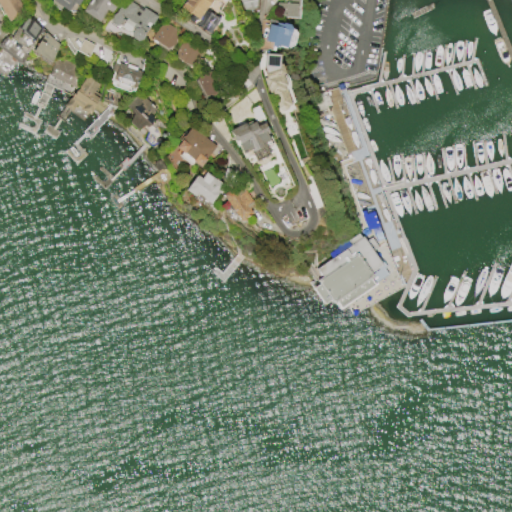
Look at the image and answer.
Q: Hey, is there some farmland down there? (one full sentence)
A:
No, there is no farmland in the image.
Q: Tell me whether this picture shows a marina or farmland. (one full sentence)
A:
It's a marina.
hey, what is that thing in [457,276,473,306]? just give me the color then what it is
white boat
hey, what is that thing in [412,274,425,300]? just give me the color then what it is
white boat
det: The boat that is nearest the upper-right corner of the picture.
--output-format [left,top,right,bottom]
[483,8,497,36]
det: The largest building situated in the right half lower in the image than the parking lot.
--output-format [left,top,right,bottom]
[312,234,390,309]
